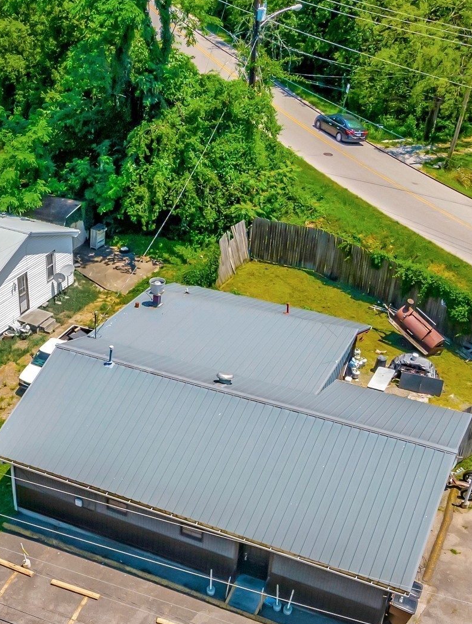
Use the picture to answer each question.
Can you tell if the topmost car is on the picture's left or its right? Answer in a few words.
right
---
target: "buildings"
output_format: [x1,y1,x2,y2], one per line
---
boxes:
[0,283,472,624]
[0,211,87,340]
